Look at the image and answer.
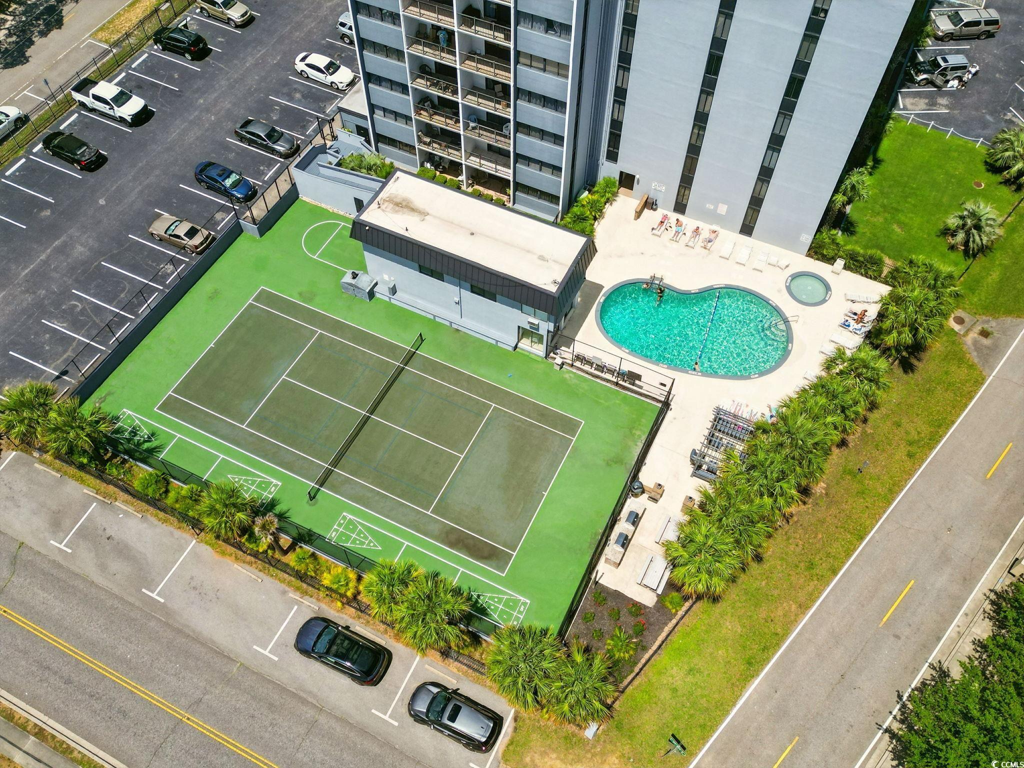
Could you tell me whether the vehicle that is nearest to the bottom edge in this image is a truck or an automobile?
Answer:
automobile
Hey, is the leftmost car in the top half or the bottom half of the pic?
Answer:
top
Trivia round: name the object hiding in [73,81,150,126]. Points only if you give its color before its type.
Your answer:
white truck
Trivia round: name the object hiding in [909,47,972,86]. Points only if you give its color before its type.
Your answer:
gray car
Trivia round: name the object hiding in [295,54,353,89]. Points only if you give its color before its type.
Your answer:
white car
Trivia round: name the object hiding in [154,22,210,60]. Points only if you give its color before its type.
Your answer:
black car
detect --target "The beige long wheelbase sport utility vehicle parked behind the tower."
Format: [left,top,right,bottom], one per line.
[932,8,1002,42]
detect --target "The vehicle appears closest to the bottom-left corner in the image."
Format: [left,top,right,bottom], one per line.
[293,616,388,687]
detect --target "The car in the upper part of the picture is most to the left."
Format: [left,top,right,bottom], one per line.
[0,105,26,136]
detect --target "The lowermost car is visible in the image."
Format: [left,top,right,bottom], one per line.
[408,681,506,756]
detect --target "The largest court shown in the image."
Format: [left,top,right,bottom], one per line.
[75,196,661,663]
